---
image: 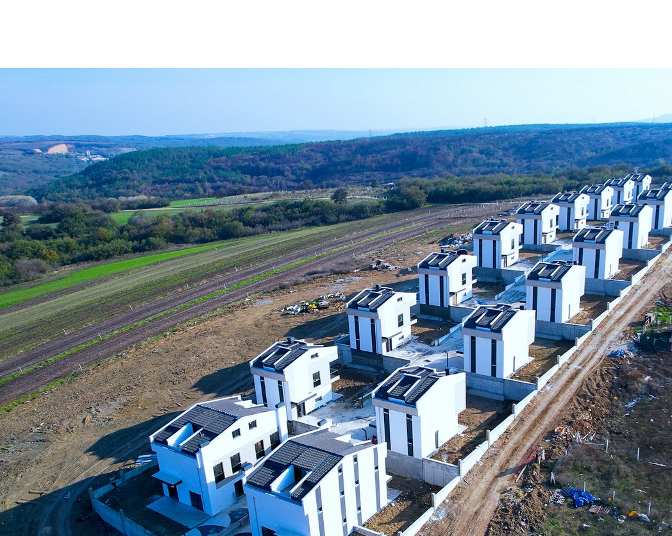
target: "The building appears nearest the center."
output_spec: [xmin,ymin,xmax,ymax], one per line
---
[347,284,418,354]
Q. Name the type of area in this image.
residential area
